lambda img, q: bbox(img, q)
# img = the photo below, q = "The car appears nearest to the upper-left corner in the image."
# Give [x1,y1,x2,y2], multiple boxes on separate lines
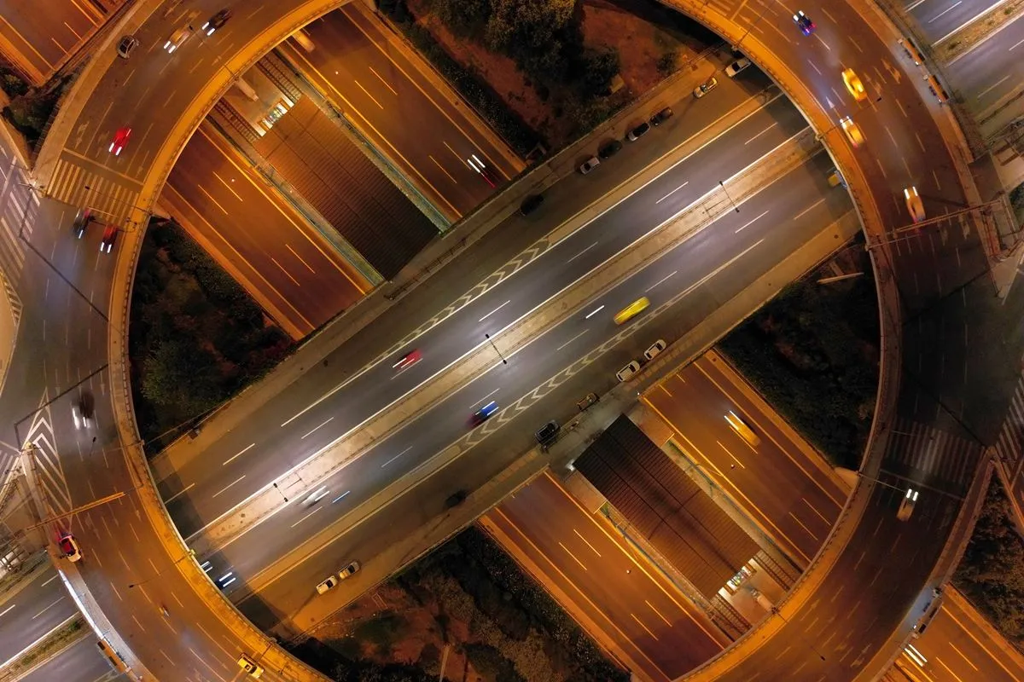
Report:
[117,33,139,59]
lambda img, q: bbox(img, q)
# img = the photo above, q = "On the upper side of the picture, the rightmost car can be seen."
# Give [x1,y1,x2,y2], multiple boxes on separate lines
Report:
[905,191,922,219]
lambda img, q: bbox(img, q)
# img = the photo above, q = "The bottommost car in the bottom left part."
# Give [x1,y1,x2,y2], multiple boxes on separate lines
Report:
[237,653,264,677]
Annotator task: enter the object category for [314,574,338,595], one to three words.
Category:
car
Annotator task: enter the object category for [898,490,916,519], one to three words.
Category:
car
